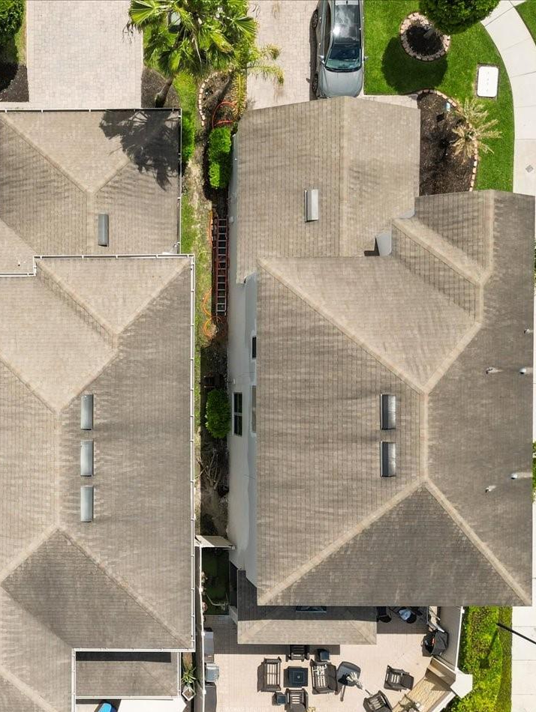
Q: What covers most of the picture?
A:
buildings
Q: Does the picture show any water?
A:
No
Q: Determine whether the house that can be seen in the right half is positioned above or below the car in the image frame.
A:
below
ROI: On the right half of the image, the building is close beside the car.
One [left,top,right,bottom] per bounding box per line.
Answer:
[229,96,534,646]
